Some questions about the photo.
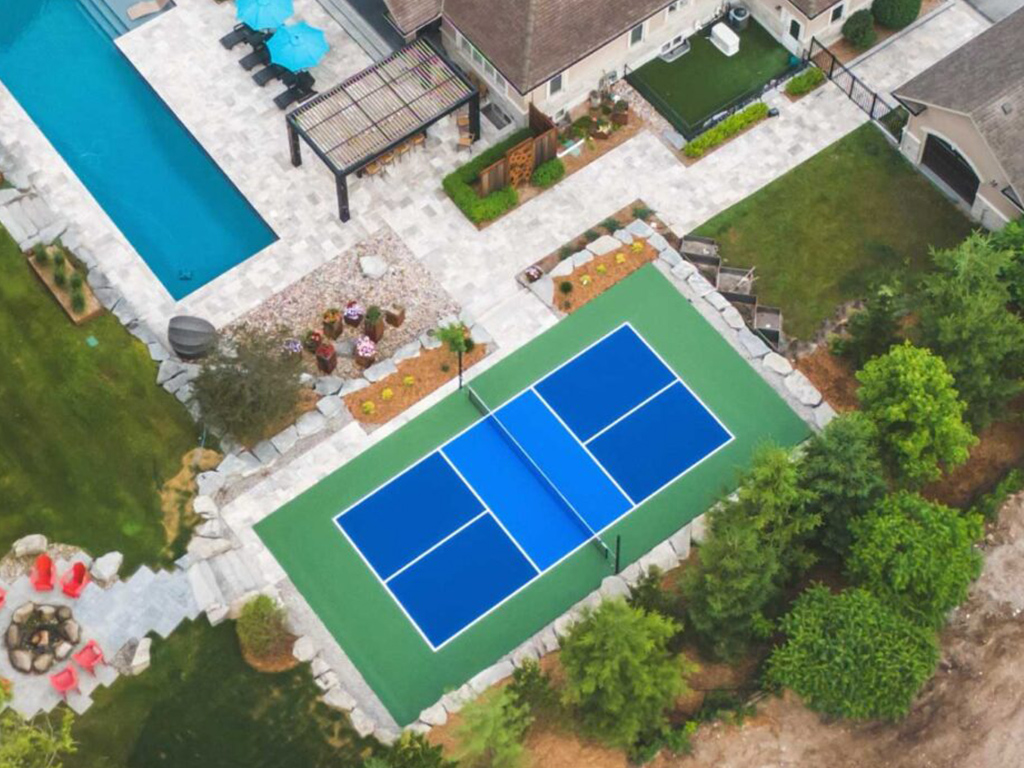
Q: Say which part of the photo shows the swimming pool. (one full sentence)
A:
Look in the top left portion of the view to spot the swimming pool.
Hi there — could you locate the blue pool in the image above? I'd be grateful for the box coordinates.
[0,0,289,309]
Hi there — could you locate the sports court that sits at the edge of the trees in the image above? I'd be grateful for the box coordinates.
[254,264,810,727]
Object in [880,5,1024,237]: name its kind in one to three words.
building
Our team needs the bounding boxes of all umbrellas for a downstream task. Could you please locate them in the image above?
[228,0,294,49]
[261,19,328,80]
